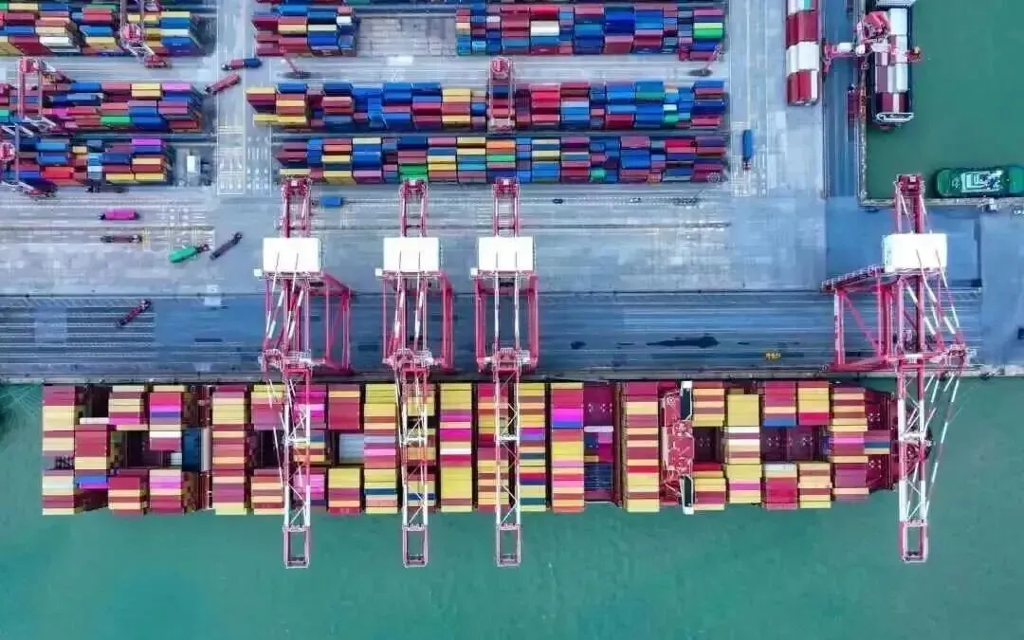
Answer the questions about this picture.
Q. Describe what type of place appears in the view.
port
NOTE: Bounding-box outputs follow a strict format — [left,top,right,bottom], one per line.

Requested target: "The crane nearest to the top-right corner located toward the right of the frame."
[818,15,928,79]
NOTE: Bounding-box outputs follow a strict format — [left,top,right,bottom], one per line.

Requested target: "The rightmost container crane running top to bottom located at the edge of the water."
[822,174,972,565]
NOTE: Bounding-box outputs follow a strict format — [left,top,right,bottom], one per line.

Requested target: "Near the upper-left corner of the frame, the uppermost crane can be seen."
[119,0,173,75]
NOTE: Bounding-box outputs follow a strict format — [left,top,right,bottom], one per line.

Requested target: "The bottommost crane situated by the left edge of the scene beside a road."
[0,118,56,210]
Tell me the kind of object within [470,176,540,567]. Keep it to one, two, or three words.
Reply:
container crane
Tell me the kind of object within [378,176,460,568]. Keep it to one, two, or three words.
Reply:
container crane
